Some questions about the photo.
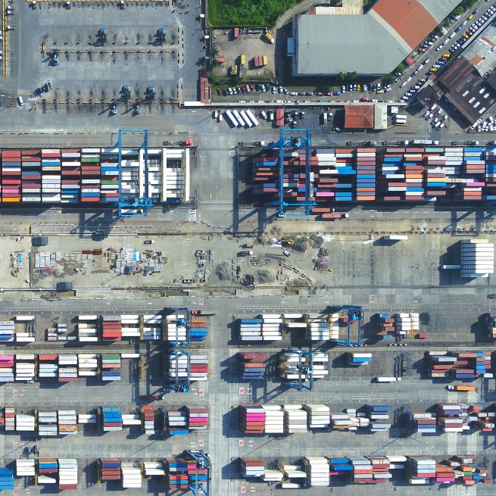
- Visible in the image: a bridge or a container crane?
container crane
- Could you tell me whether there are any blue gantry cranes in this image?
Yes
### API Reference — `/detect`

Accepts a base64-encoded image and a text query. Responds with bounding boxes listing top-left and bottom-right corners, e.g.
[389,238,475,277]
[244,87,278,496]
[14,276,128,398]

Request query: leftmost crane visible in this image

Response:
[109,129,154,216]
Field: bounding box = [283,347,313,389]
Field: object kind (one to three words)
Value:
crane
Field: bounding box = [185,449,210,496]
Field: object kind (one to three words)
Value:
crane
